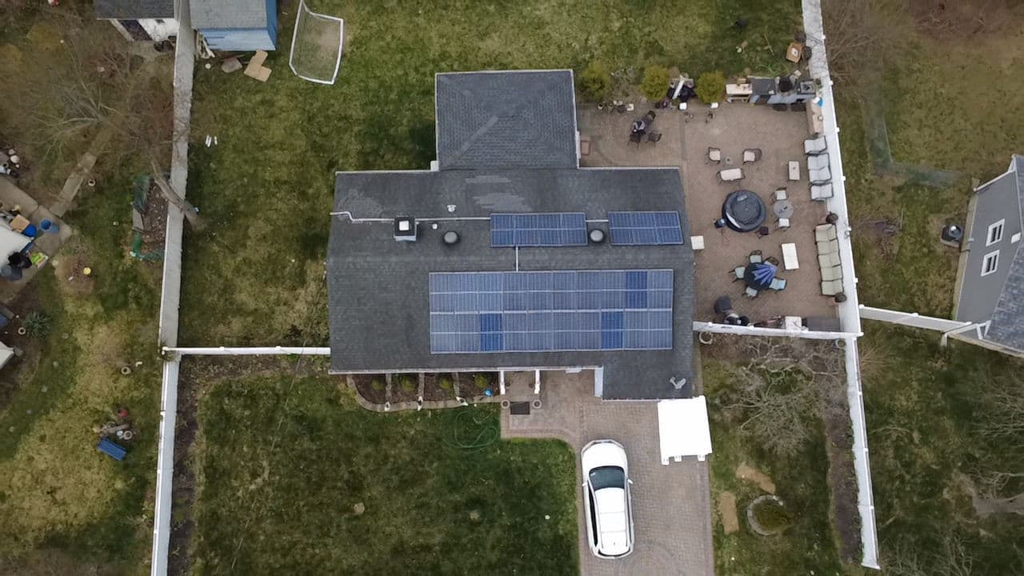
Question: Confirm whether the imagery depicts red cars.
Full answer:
No, there's no red car here.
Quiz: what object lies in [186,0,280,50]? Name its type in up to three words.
shed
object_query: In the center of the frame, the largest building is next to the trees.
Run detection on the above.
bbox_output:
[326,68,693,402]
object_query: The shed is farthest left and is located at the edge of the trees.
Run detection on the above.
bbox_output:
[96,0,176,42]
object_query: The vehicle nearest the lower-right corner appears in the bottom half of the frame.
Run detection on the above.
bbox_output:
[582,438,635,559]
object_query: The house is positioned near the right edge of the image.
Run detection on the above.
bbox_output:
[948,160,1024,347]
